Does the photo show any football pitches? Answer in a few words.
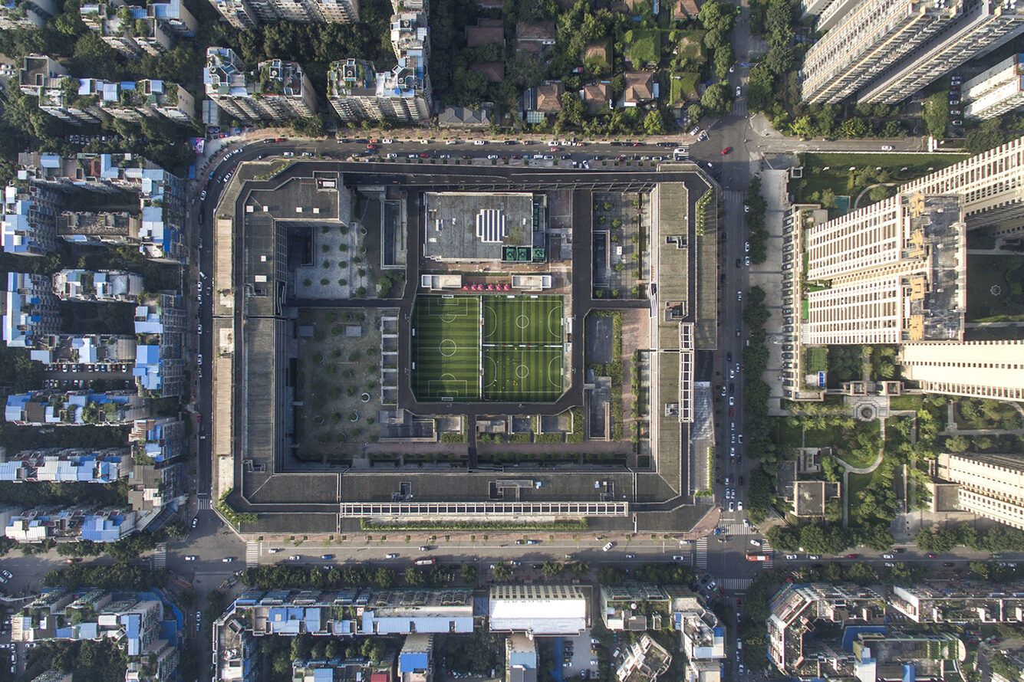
Yes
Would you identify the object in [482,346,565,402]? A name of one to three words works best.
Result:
soccer field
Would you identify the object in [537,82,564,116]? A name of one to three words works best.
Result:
house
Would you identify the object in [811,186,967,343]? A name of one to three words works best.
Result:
building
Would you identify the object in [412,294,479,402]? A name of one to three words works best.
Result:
soccer field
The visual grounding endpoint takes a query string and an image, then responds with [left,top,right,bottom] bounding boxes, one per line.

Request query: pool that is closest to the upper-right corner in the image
[833,195,851,217]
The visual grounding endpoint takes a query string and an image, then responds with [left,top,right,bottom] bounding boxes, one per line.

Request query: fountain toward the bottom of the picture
[857,403,876,422]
